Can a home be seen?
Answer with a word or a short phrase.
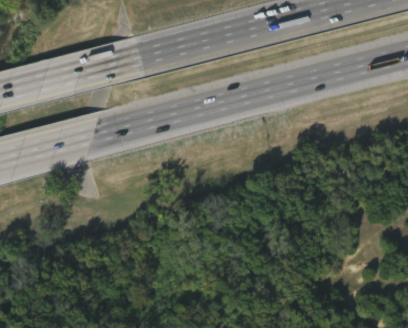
No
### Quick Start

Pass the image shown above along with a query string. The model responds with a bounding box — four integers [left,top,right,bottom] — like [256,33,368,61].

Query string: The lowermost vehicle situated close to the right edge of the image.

[368,54,408,70]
